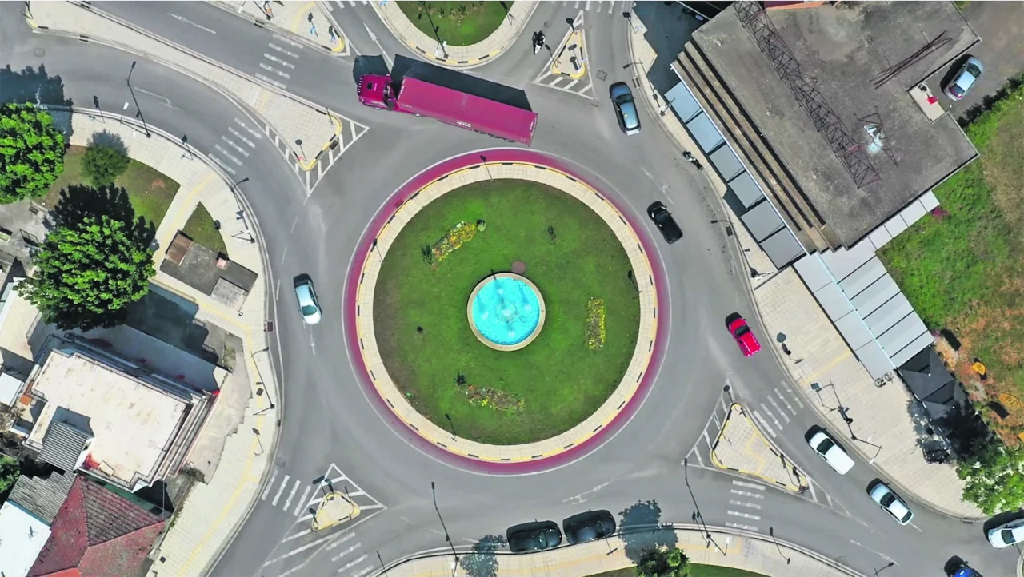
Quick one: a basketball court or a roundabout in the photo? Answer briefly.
roundabout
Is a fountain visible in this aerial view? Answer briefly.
Yes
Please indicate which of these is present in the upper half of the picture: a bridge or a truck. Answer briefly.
truck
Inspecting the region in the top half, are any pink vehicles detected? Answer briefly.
Yes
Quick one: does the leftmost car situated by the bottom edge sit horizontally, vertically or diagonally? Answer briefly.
horizontally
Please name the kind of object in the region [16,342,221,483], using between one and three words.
building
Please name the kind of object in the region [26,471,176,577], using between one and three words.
house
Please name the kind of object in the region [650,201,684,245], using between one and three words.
car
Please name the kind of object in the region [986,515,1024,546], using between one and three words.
car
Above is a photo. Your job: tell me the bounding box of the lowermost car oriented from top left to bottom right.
[869,483,915,526]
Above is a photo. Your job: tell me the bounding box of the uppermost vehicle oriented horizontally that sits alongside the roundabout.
[358,72,537,146]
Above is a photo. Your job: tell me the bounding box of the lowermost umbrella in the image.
[923,380,981,436]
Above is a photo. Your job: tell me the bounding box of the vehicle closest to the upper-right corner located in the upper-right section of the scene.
[945,58,985,101]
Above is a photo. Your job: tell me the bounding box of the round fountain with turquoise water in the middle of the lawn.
[467,273,545,351]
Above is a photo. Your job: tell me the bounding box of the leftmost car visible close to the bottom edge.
[510,526,560,552]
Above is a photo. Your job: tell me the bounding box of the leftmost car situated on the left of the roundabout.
[293,278,321,325]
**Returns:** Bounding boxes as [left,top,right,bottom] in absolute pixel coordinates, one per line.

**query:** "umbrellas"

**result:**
[923,380,981,436]
[898,346,954,401]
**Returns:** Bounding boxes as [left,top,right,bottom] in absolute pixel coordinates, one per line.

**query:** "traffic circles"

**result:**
[342,148,670,476]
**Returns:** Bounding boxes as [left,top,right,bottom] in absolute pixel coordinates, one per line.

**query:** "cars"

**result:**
[610,85,641,136]
[510,526,560,552]
[293,278,321,325]
[666,0,706,28]
[729,316,763,358]
[869,483,915,526]
[986,515,1024,546]
[564,514,616,543]
[809,431,854,475]
[952,565,980,577]
[650,201,684,245]
[945,58,985,101]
